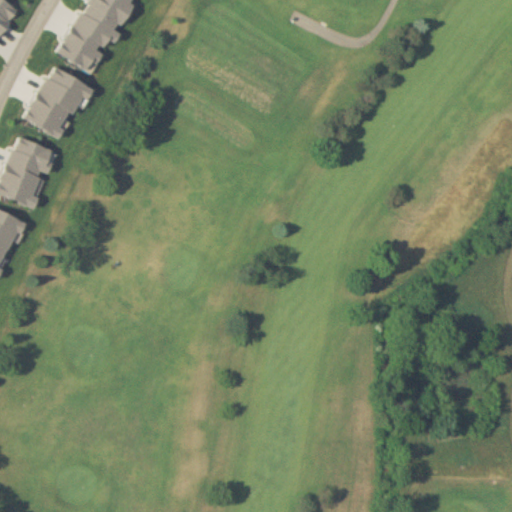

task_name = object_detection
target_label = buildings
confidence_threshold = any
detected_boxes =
[0,209,28,276]
[23,66,94,139]
[0,136,56,210]
[56,0,135,74]
[0,0,18,37]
